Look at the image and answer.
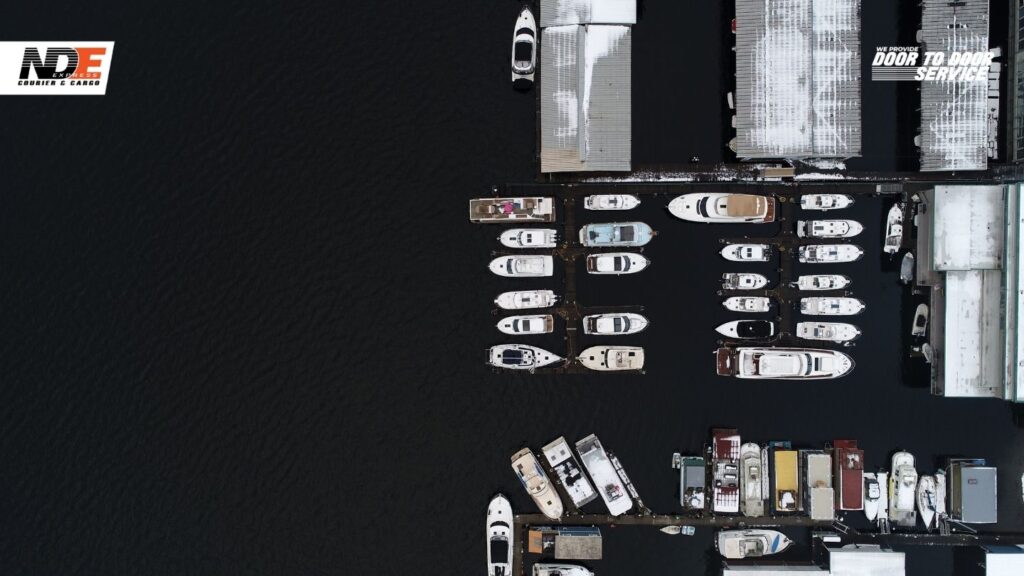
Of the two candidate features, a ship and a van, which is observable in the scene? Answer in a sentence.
There is a ship in the scene.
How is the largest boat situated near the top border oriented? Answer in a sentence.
The largest boat situated near the top border is oriented vertically.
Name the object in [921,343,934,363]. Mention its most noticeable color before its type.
gray boat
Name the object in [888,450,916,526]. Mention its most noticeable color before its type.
white boat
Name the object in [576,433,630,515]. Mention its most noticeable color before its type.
white ship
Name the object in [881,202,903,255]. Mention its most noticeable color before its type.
white boat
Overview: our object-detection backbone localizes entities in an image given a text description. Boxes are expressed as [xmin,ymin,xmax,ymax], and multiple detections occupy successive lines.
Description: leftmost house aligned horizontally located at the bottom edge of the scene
[529,527,602,560]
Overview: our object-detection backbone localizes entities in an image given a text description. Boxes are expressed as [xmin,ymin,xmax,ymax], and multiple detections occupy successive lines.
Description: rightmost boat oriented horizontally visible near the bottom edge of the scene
[716,528,793,558]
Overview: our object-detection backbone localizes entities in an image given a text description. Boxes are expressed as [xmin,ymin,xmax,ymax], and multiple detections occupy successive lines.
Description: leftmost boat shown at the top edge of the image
[512,5,537,95]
